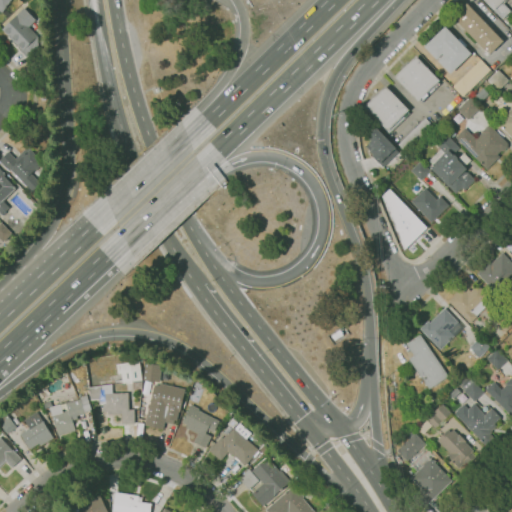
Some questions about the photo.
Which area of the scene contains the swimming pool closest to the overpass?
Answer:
left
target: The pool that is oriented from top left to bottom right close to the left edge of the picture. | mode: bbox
[10,194,30,216]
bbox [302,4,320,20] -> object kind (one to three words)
vehicle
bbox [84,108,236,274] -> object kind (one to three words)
overpass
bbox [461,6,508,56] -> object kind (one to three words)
building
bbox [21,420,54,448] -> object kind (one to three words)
house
